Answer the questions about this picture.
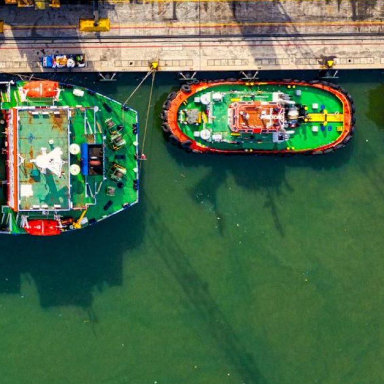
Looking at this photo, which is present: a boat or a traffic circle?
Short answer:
boat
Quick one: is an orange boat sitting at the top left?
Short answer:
Yes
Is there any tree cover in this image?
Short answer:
No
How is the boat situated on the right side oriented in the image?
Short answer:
from side to side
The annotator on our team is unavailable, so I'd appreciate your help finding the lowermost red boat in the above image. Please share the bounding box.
[24,218,61,236]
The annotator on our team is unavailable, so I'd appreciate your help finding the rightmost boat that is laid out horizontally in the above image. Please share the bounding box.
[155,77,356,156]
